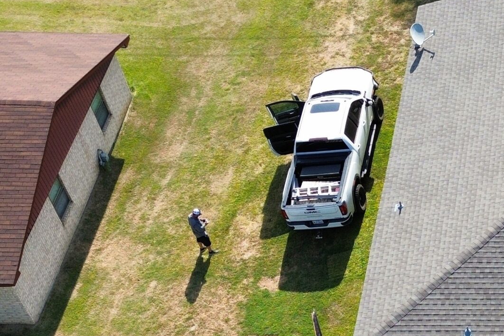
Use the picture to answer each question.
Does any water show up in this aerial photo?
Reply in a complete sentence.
No, no water is visible.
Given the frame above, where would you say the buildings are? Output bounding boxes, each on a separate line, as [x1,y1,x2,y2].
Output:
[0,32,127,325]
[353,0,504,336]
